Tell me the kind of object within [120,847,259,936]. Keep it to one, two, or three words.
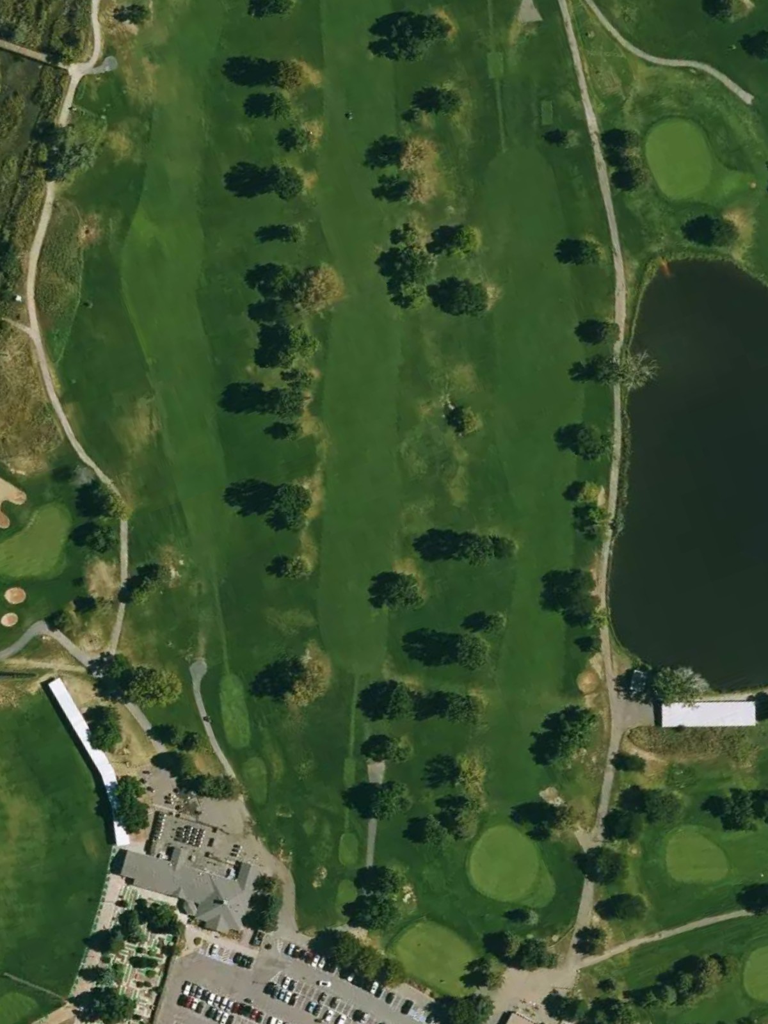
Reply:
building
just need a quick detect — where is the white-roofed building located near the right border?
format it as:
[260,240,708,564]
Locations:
[662,701,757,727]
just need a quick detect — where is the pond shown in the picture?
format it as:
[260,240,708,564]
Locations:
[609,261,768,692]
